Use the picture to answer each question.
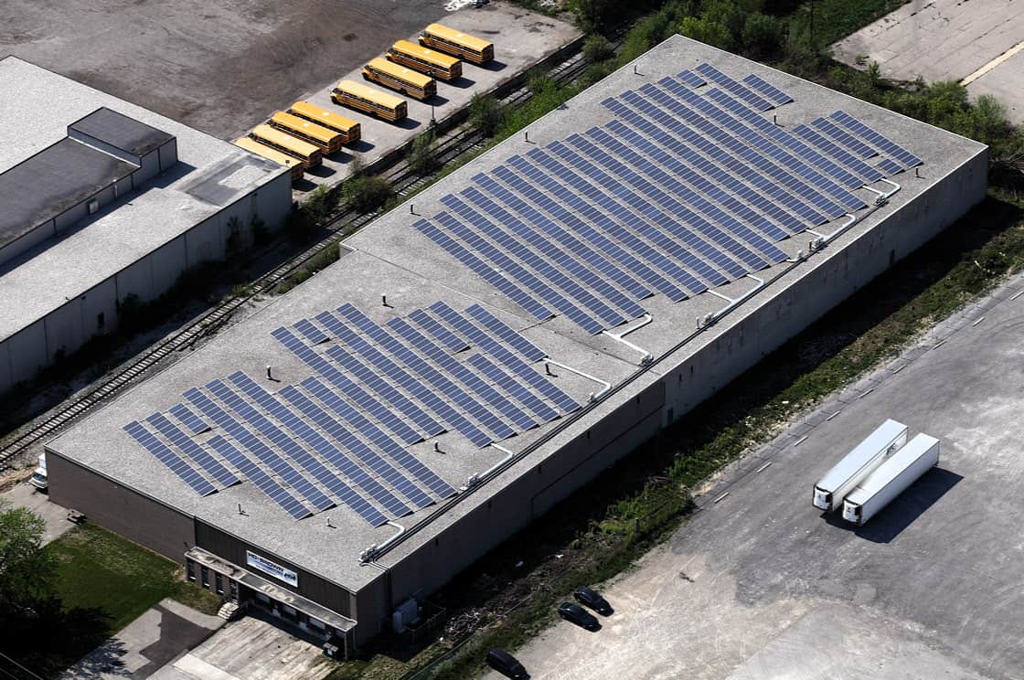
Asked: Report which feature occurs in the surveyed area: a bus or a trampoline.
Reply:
bus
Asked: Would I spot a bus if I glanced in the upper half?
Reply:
Yes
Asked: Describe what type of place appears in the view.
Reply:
industrial area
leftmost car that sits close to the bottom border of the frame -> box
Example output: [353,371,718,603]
[482,644,526,677]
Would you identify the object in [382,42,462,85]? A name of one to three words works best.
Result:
bus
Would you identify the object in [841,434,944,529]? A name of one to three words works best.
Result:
trailer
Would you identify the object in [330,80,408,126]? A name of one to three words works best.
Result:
bus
